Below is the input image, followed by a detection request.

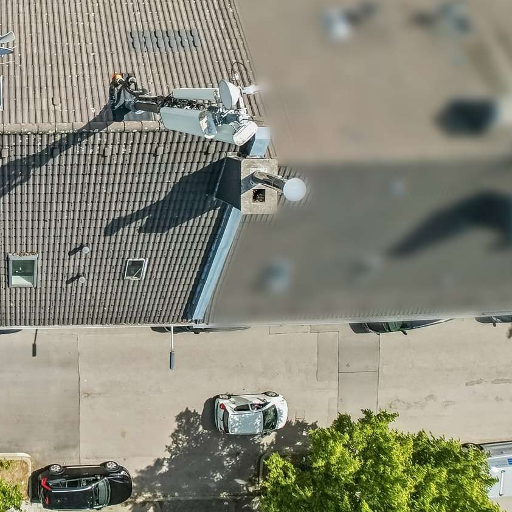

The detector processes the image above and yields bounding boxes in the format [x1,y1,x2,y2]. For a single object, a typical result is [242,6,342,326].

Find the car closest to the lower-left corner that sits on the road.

[38,468,131,512]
